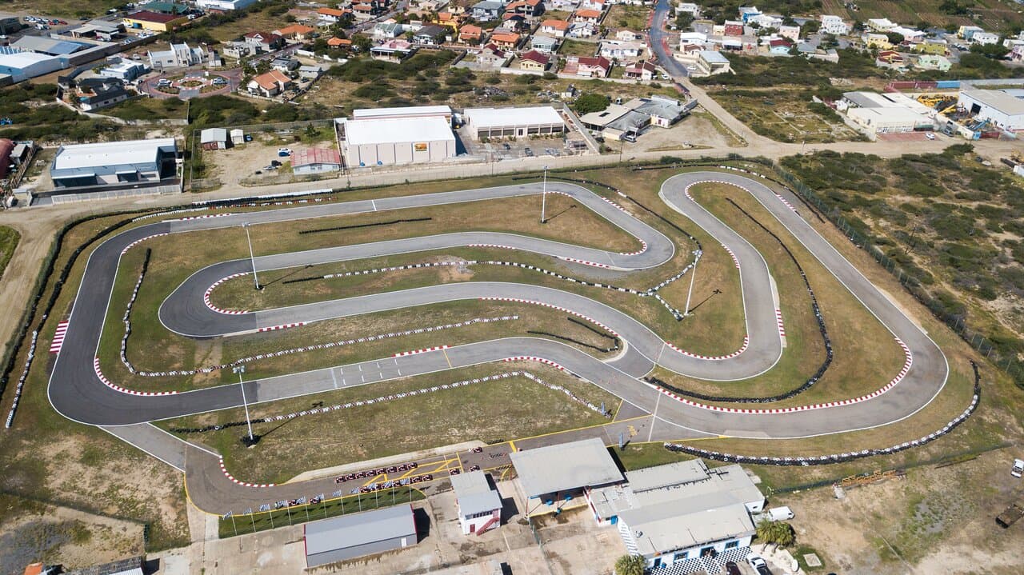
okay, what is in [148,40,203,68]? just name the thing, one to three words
building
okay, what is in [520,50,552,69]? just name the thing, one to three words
house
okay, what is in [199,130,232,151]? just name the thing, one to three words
shed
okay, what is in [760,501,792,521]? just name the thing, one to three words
vehicle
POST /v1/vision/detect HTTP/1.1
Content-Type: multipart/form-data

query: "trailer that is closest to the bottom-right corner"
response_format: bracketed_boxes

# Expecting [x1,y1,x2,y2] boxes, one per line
[990,499,1024,533]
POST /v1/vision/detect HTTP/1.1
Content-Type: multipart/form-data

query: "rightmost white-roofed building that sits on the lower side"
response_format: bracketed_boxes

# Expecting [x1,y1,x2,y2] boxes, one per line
[585,457,765,569]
